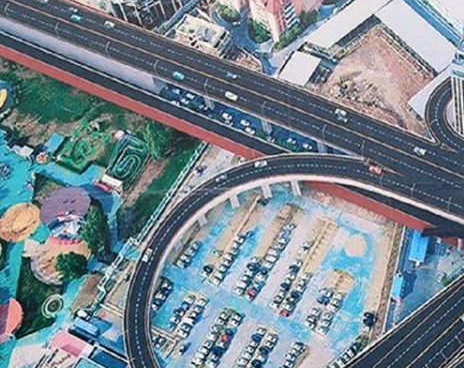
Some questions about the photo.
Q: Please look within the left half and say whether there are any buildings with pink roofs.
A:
Yes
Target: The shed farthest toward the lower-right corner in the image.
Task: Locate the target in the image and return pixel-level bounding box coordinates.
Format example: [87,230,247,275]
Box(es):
[391,273,405,305]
